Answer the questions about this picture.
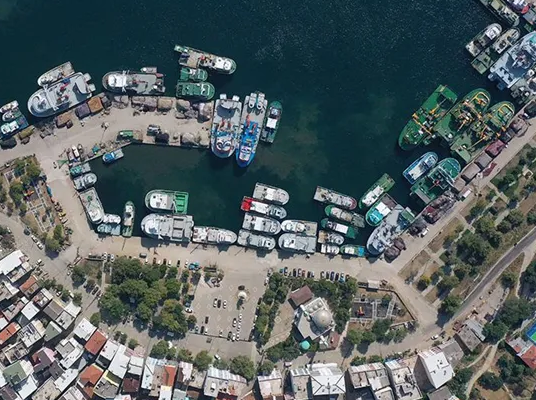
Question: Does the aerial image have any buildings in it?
Yes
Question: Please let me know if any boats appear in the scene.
Yes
